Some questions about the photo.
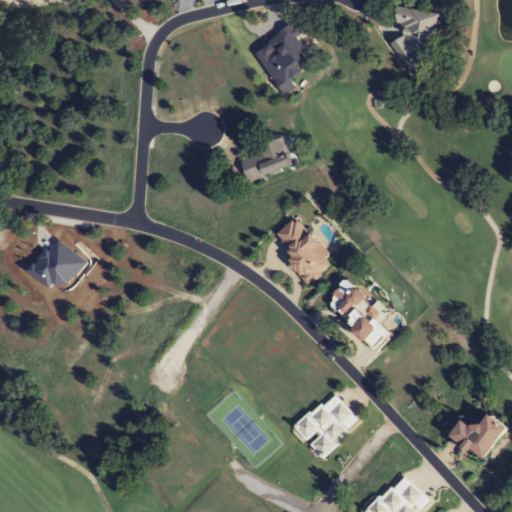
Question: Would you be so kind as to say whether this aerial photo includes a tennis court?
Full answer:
Yes, there is a tennis court in the image.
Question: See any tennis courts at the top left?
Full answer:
No, the scene shows no tennis court at the top left.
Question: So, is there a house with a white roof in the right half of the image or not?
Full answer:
Yes, a house with a white roof is visible in the right half of the image.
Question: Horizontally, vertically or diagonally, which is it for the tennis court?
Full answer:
In this picture, the tennis court lies diagonally.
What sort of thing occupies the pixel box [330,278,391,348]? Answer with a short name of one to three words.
house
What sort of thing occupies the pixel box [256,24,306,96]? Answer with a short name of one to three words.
house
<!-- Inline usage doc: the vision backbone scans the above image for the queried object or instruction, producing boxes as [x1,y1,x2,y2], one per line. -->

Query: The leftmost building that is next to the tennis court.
[292,395,360,459]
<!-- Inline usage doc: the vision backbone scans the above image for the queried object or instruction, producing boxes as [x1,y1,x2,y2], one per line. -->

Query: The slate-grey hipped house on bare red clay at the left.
[26,240,88,290]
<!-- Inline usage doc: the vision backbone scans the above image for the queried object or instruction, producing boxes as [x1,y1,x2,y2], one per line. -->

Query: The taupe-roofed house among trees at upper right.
[388,8,442,60]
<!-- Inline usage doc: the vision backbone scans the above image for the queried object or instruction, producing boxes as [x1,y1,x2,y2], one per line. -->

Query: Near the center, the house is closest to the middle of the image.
[278,219,330,280]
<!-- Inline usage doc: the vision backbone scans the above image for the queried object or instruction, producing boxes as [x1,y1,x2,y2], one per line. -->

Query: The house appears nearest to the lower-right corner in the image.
[448,412,509,460]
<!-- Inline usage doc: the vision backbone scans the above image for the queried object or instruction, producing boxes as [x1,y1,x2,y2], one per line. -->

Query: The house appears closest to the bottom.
[362,476,430,512]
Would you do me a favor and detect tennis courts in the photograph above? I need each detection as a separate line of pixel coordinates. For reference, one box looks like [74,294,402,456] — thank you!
[208,391,284,468]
